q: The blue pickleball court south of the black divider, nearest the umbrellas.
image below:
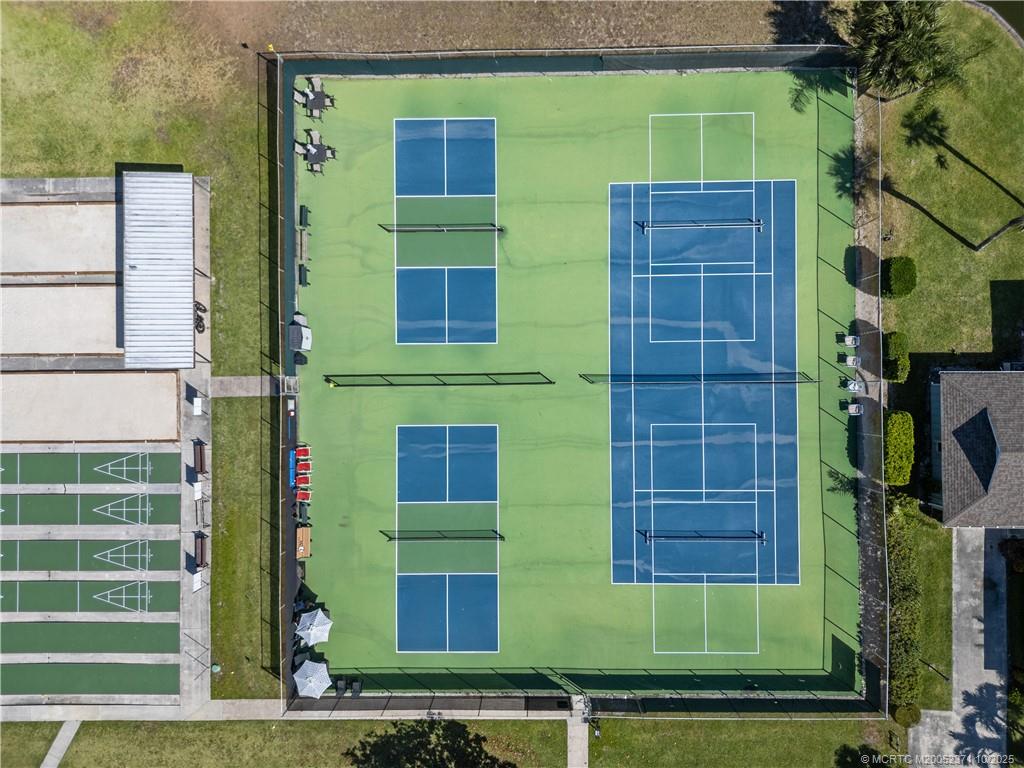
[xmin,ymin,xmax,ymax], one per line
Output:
[396,424,499,654]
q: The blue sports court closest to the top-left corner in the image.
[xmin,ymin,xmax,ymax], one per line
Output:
[394,117,498,345]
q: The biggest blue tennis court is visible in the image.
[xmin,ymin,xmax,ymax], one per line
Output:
[610,179,801,585]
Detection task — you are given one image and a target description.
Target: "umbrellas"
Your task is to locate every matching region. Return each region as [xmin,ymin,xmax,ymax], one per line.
[293,656,334,697]
[295,605,336,646]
